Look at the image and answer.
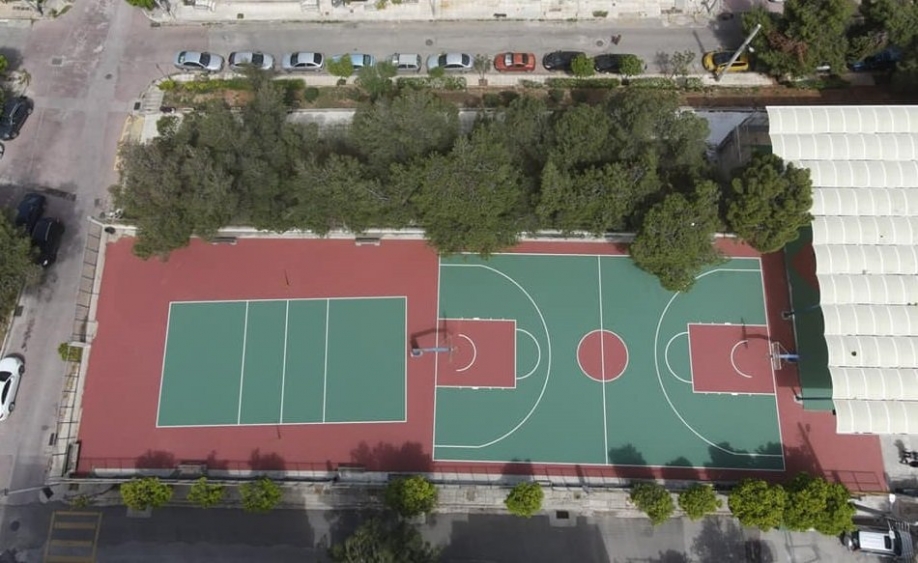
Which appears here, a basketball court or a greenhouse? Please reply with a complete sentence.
Looking from above, you can make out a basketball court.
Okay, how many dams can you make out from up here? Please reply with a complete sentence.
The count of dams is 0.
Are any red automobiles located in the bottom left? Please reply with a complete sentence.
No, no red automobile can be made out in the bottom left.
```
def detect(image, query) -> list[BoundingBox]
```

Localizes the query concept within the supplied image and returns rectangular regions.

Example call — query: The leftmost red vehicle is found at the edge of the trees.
[493,53,535,74]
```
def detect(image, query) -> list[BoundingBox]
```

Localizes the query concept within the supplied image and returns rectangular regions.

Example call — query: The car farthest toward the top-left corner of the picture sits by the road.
[0,98,36,143]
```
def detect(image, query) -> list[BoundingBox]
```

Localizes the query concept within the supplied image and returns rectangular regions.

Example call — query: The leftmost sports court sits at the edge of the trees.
[156,297,407,427]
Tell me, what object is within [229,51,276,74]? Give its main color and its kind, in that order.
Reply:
gray car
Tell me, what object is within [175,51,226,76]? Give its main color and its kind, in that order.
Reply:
gray car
